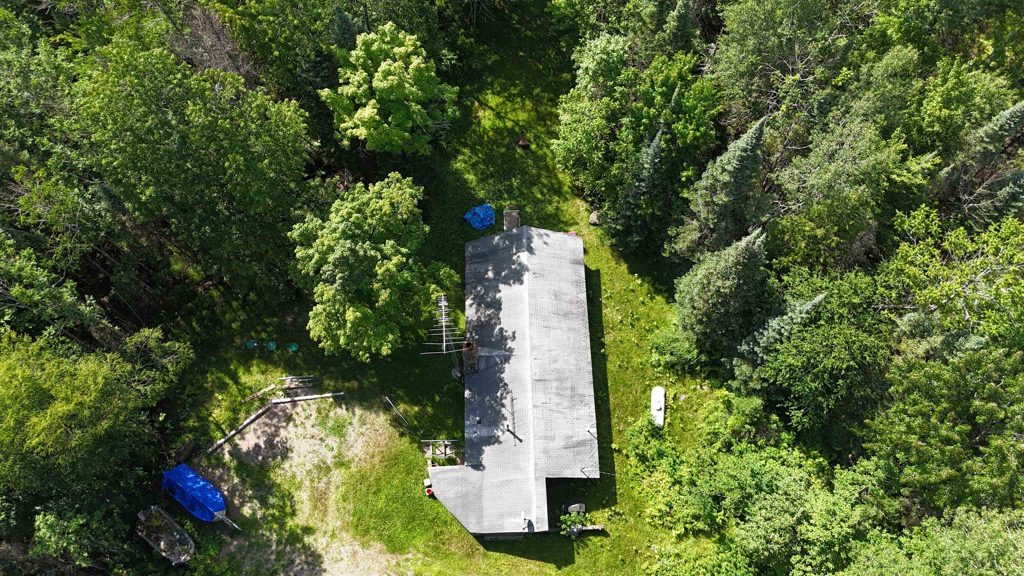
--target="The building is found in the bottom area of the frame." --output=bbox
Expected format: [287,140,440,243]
[428,228,600,534]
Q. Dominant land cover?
trees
